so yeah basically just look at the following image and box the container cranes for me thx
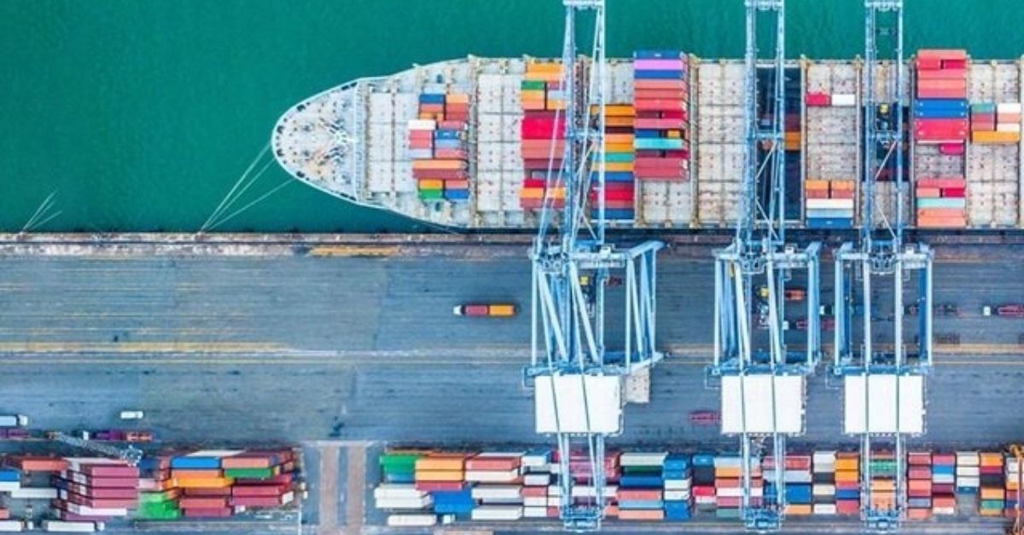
[1008,438,1024,535]
[826,0,941,529]
[524,0,674,529]
[706,0,834,529]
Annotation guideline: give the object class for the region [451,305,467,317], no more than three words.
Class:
vehicle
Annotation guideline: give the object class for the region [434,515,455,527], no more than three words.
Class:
vehicle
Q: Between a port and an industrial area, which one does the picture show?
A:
port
